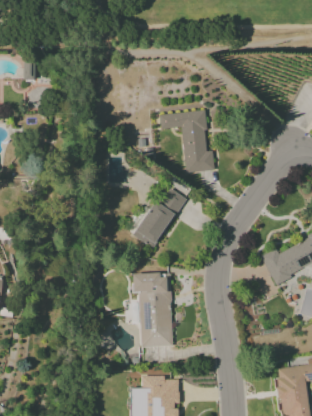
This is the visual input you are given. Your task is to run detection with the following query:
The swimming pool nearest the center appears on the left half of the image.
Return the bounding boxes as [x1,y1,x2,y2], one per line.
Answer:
[110,158,128,183]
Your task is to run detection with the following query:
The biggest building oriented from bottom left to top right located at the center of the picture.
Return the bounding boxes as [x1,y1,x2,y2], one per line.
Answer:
[132,182,189,247]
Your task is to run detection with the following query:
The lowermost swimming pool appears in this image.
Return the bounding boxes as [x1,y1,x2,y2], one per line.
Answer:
[114,326,134,352]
